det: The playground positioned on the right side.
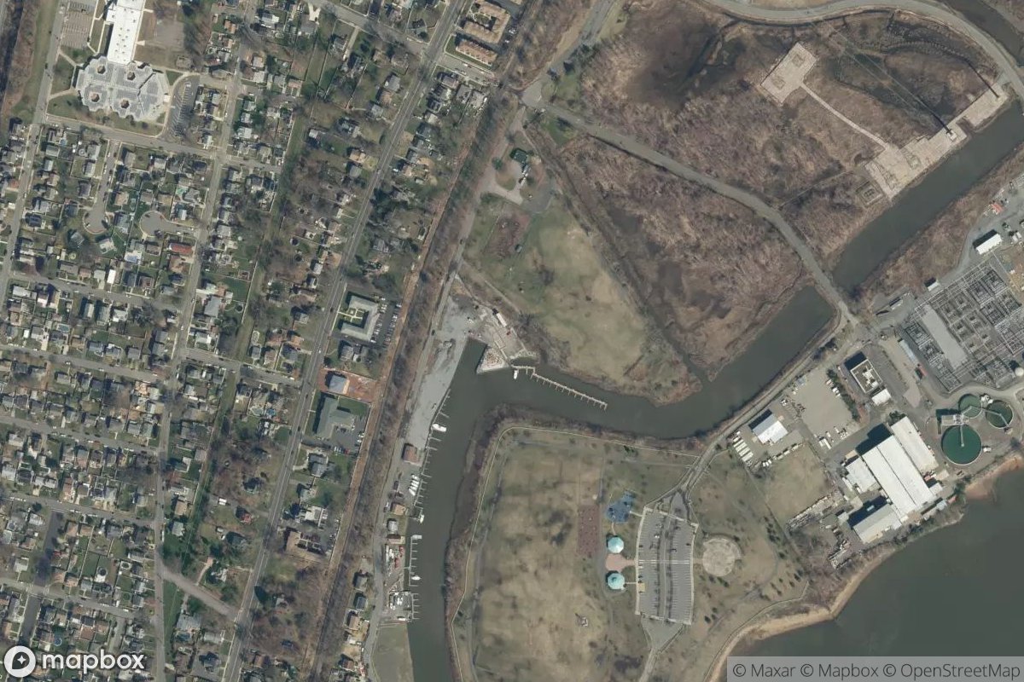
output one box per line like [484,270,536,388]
[606,491,636,523]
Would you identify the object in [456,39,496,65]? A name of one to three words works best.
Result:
house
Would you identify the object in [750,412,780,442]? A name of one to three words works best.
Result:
building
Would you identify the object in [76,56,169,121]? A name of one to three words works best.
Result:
building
